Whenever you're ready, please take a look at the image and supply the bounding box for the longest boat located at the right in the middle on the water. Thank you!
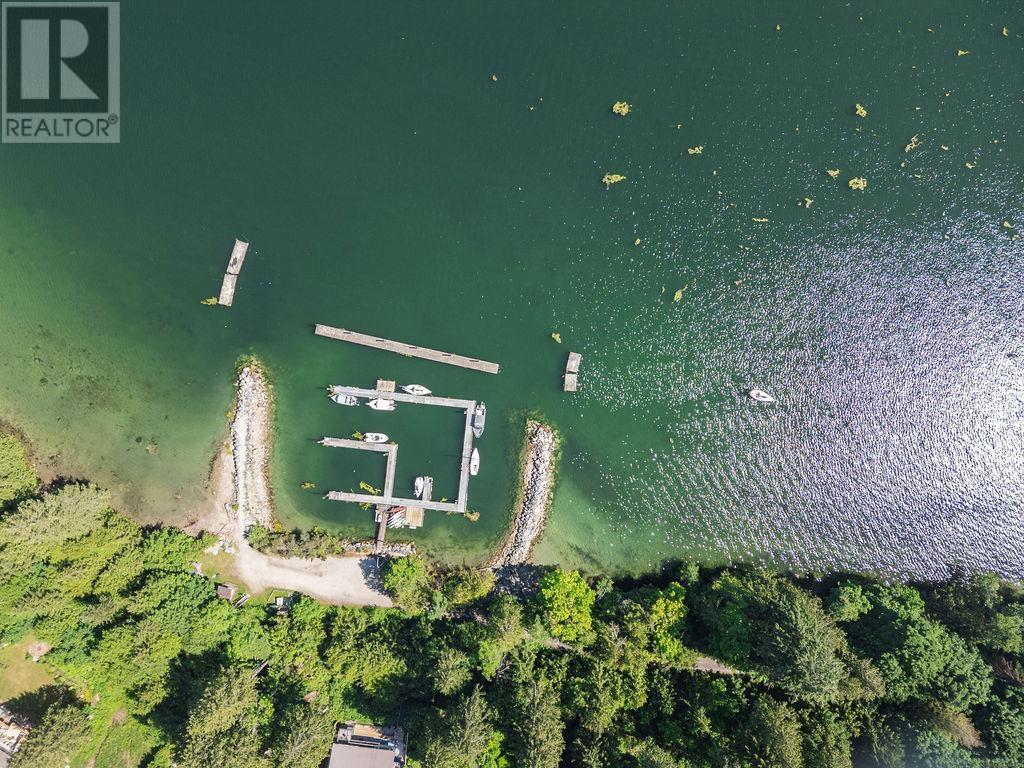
[749,388,779,401]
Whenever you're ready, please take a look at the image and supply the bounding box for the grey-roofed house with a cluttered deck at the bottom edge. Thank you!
[330,720,407,768]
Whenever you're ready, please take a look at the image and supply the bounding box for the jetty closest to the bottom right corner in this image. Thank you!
[476,409,566,577]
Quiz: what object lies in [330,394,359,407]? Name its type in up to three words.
boat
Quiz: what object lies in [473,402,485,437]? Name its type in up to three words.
boat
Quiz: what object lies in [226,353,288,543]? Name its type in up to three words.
pier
